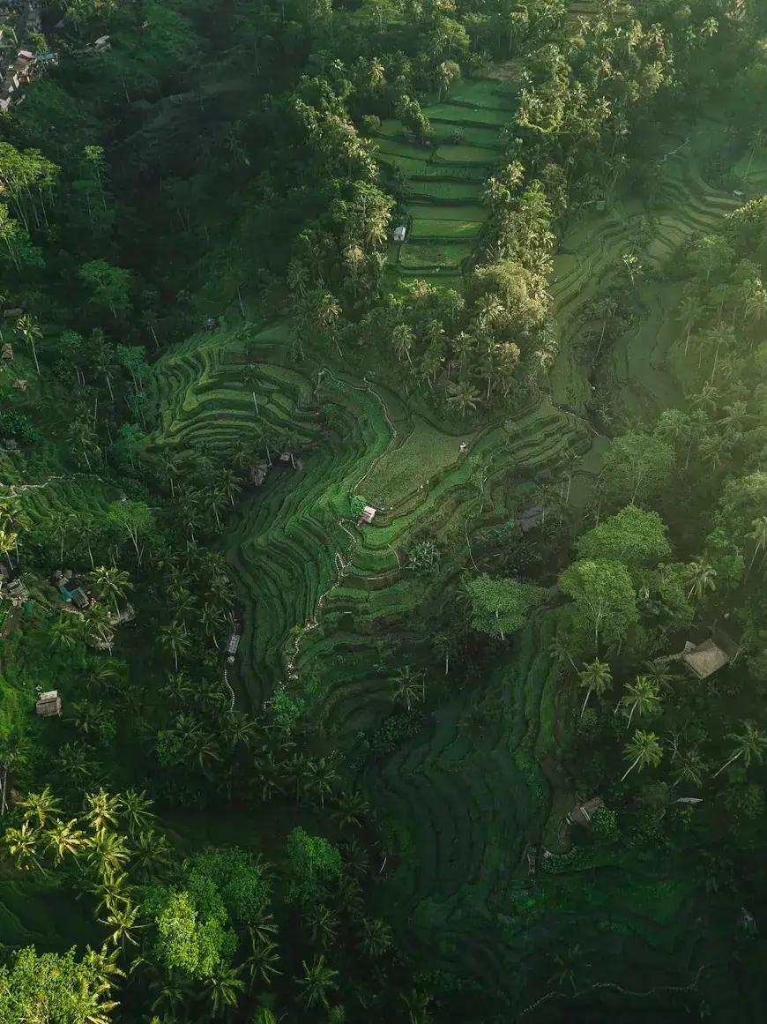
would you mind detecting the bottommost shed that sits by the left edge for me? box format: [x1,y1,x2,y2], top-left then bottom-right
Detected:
[35,691,66,722]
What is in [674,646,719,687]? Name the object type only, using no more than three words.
building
